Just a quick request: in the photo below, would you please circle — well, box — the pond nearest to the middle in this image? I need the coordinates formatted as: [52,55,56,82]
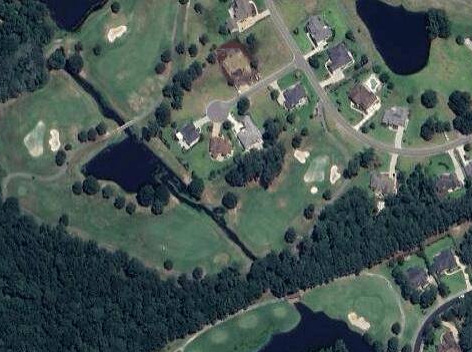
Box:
[81,137,205,206]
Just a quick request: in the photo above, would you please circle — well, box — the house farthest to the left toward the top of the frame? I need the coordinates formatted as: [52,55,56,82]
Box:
[178,122,201,147]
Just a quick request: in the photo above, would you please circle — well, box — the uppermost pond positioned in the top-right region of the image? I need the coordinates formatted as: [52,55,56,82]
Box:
[356,0,431,75]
